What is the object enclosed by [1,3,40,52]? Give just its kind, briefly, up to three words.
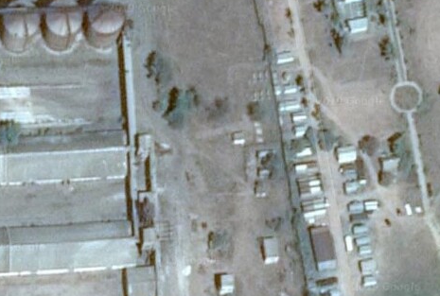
silo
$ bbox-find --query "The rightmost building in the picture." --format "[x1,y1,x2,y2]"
[380,157,402,175]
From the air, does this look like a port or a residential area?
residential area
